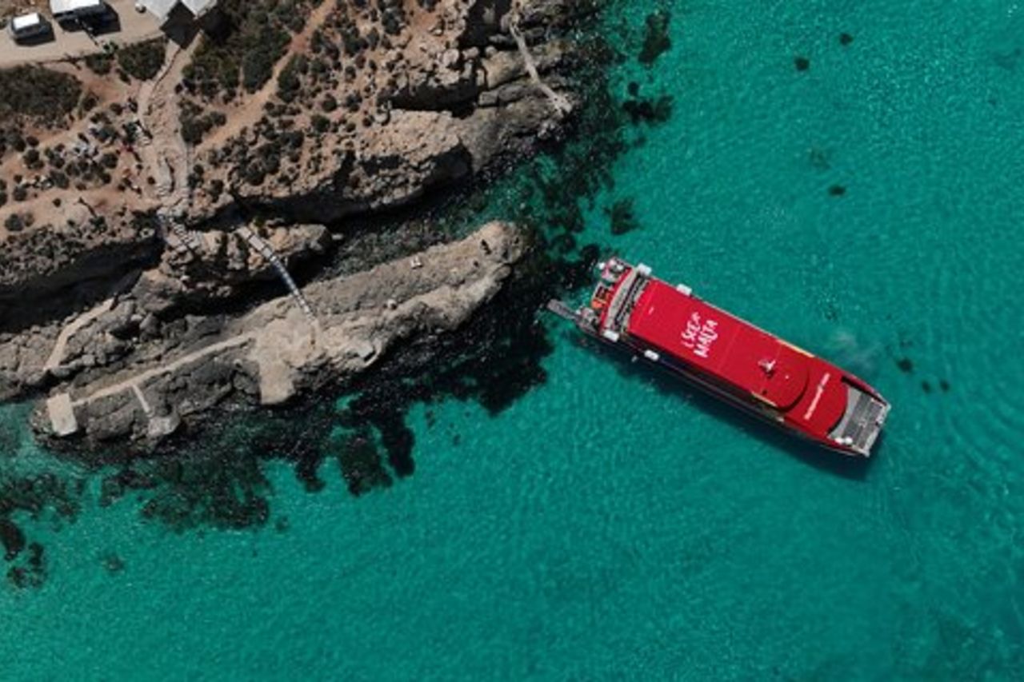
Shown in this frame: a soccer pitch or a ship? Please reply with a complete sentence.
There is a ship in the scene.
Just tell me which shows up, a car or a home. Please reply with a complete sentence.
The one in the frame is a car.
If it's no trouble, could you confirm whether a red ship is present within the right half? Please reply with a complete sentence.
Yes, a red ship is visible within the right half.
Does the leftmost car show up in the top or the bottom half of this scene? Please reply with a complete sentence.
The leftmost car sits in the top half of the picture.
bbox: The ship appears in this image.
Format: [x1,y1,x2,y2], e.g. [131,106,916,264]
[544,258,891,456]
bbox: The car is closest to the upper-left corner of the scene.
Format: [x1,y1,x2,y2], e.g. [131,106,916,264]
[13,14,55,40]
